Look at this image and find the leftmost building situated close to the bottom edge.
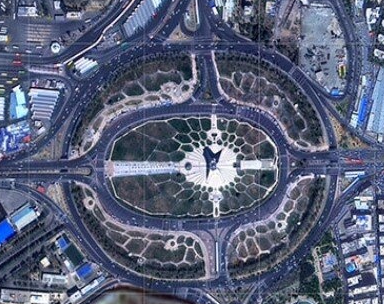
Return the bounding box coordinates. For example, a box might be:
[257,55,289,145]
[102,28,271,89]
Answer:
[1,289,28,304]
